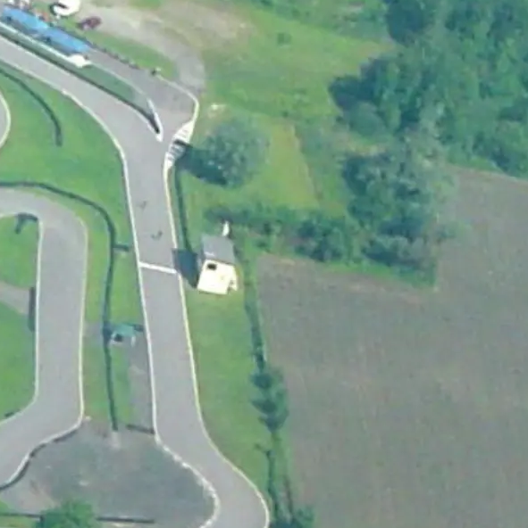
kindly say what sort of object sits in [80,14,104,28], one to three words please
vehicle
